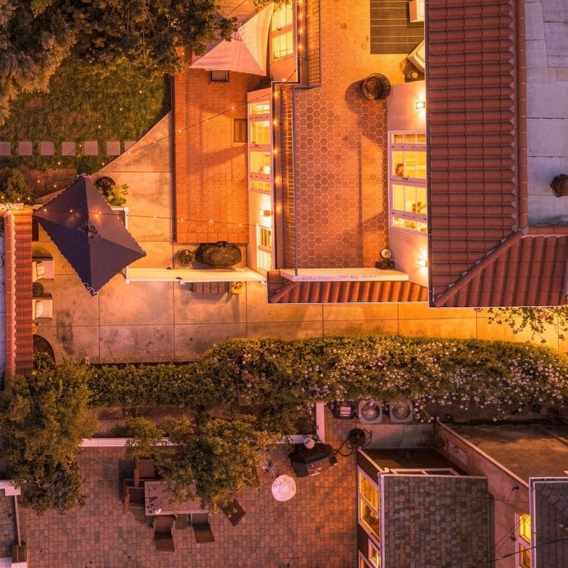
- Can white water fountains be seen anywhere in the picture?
No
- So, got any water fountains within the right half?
No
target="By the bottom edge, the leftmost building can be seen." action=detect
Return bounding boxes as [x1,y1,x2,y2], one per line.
[357,449,487,568]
